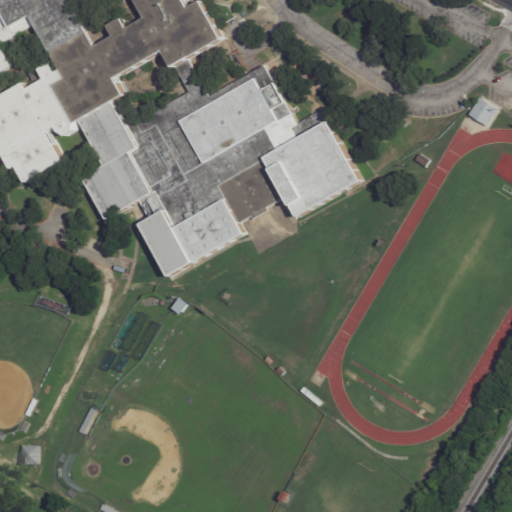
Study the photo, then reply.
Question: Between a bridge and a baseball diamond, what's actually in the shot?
baseball diamond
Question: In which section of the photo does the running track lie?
right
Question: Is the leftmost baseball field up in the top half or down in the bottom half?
bottom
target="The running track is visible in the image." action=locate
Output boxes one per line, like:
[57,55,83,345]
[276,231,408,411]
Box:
[318,91,512,444]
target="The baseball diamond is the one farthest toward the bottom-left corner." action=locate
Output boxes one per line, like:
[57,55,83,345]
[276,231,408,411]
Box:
[0,303,70,432]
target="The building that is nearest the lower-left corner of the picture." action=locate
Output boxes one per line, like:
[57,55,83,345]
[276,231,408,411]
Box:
[22,445,43,465]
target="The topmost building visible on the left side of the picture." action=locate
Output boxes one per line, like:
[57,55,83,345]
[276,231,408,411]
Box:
[0,0,364,277]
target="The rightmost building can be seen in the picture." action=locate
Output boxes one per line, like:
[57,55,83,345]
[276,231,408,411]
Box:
[469,97,499,126]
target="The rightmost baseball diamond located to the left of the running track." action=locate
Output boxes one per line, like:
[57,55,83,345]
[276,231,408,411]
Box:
[71,314,326,512]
